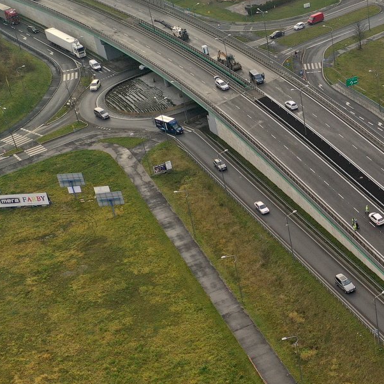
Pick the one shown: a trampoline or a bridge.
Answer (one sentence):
The one in the frame is a bridge.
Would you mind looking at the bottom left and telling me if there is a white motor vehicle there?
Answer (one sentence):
No, there's no white motor vehicle to be seen at the bottom left.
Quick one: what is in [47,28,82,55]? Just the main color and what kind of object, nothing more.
white truck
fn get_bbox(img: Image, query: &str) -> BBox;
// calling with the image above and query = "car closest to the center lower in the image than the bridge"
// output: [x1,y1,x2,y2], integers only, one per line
[212,158,228,171]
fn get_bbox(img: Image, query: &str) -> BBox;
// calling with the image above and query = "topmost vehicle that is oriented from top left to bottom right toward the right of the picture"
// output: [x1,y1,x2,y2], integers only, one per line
[220,44,243,69]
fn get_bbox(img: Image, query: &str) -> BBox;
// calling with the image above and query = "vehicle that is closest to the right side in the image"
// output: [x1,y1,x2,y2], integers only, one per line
[367,212,384,226]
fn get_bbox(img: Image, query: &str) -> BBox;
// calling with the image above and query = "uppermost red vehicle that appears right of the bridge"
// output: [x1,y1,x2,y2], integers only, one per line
[307,10,323,23]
